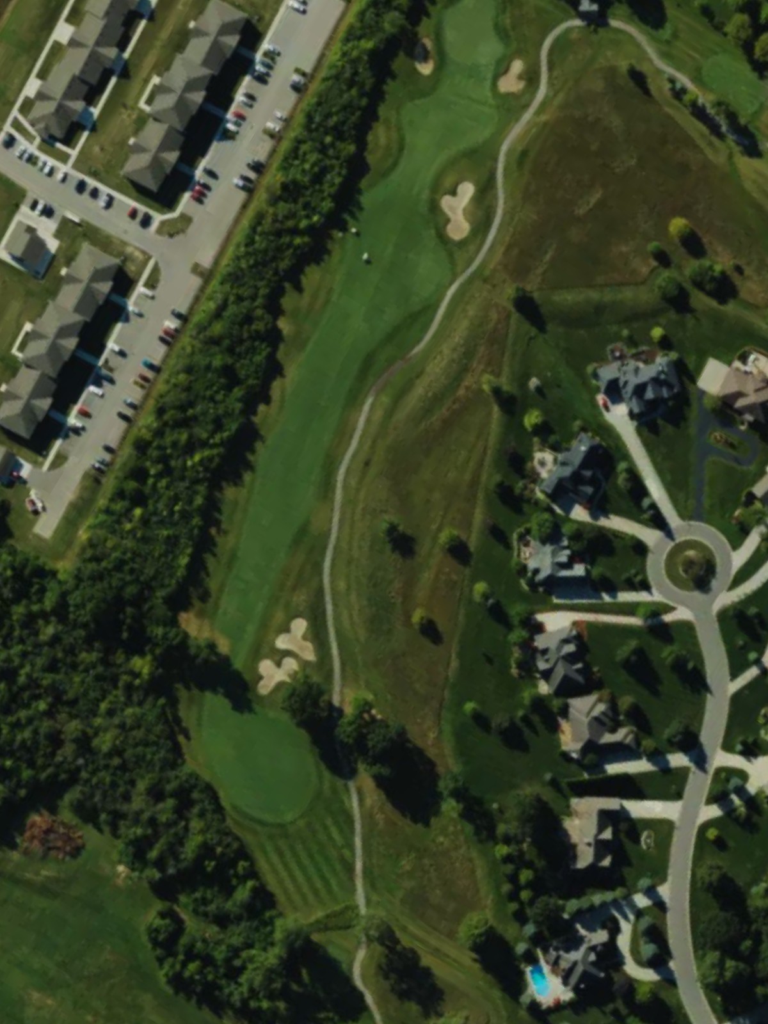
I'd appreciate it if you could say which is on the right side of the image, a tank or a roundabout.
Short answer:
roundabout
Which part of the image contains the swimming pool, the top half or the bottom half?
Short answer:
bottom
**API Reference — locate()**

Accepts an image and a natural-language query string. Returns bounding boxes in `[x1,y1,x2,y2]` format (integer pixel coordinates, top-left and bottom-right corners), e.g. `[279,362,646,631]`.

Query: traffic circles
[648,521,733,607]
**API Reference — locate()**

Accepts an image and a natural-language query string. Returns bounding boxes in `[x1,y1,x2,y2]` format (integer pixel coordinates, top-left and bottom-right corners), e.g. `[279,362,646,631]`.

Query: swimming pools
[526,948,573,1009]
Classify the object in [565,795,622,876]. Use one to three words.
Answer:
house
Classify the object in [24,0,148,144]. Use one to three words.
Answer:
building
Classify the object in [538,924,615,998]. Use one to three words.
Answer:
house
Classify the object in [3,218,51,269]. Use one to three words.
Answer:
building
